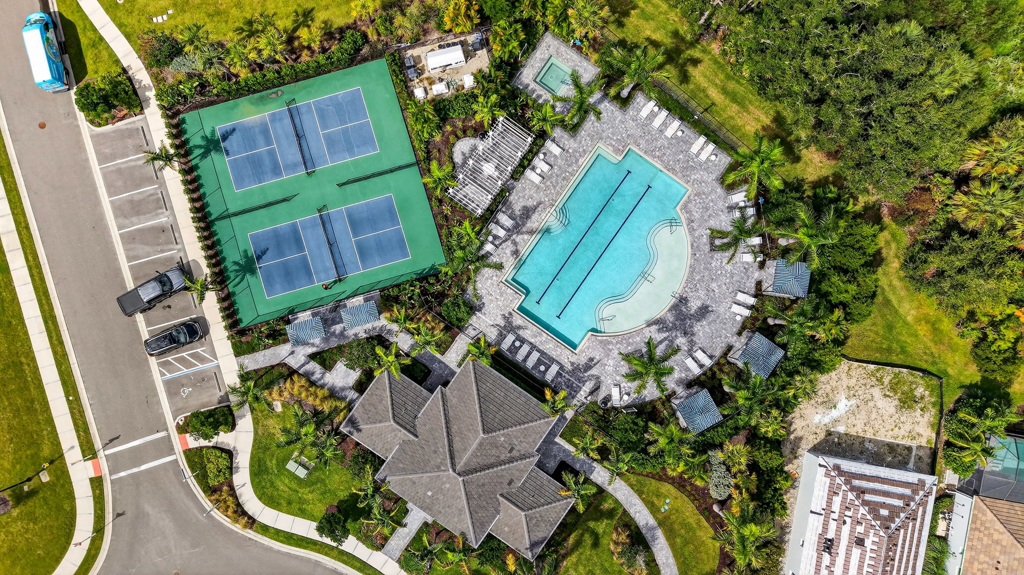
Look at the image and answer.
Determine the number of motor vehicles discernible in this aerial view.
3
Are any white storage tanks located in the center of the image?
No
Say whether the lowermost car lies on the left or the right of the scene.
left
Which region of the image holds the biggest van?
top left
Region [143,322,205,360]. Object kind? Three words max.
car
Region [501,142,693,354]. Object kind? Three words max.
swimming pool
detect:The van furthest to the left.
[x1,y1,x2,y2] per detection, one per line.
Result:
[24,12,71,93]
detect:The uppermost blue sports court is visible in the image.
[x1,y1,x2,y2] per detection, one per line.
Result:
[217,87,379,192]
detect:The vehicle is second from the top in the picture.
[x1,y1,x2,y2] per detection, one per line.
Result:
[116,268,188,316]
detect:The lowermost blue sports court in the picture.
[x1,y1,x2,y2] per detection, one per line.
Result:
[248,194,411,299]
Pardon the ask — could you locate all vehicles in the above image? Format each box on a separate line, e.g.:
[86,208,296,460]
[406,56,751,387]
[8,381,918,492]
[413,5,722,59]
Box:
[116,268,188,316]
[24,12,71,93]
[143,322,205,360]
